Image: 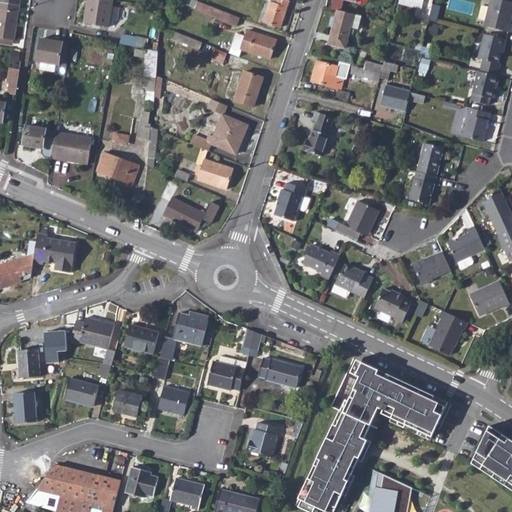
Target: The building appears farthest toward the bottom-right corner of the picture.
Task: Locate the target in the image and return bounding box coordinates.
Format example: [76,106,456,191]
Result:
[470,426,512,493]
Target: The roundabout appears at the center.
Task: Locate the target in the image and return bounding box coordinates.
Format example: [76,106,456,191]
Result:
[198,248,256,306]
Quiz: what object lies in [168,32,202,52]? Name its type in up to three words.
shed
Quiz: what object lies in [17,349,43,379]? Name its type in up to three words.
house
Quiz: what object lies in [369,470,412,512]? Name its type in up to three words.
building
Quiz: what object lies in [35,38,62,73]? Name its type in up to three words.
house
